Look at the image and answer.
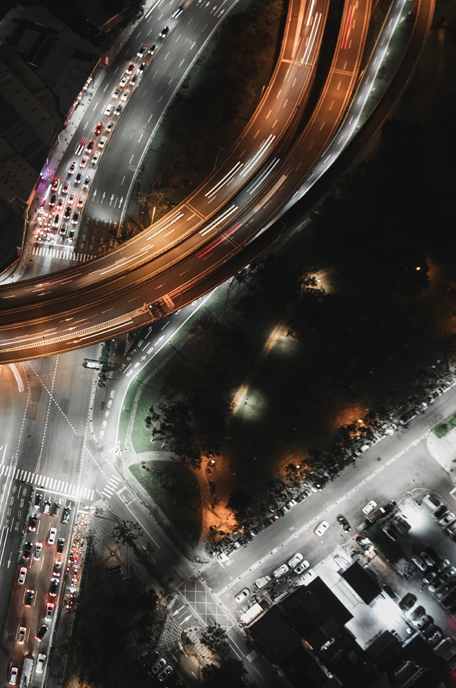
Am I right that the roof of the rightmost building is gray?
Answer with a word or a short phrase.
No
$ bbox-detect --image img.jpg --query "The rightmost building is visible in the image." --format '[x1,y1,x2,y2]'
[362,630,432,688]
